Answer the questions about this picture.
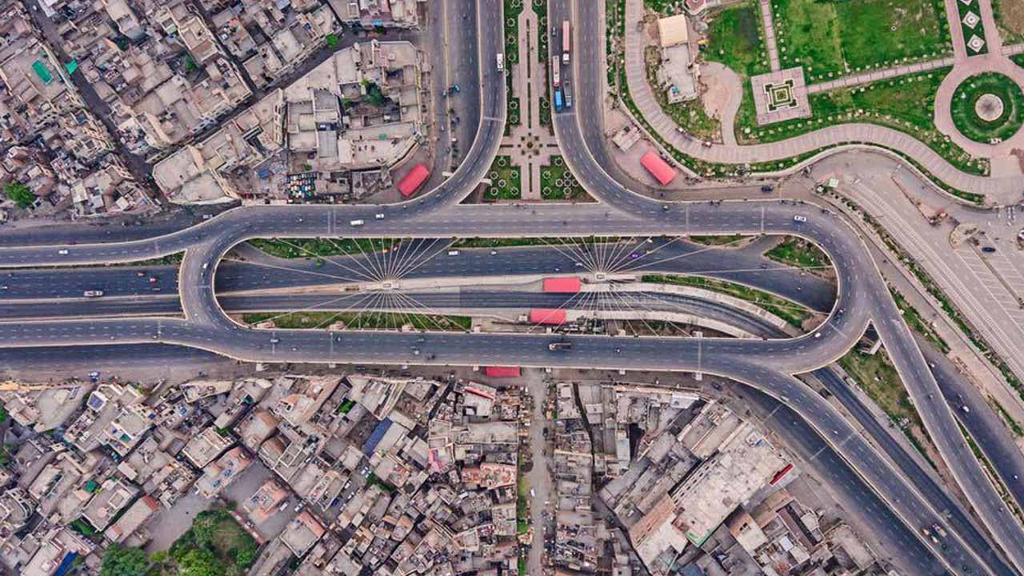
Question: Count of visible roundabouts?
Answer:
none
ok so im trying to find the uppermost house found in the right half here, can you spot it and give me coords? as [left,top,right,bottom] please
[655,14,689,52]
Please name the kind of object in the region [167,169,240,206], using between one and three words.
house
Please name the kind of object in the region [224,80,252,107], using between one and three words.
house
